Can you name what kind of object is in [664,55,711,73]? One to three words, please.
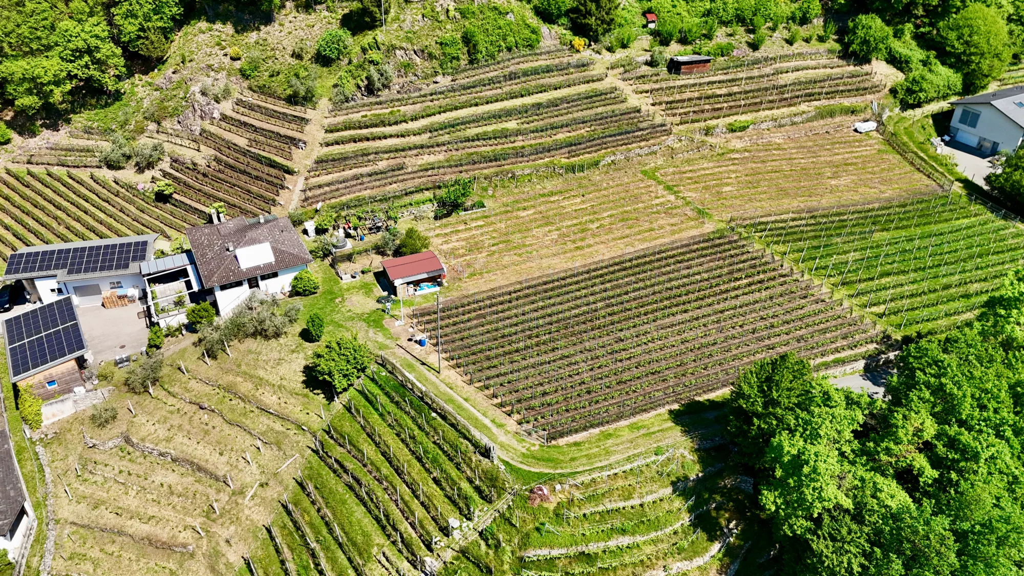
building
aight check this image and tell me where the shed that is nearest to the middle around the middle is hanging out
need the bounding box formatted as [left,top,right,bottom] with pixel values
[377,252,450,303]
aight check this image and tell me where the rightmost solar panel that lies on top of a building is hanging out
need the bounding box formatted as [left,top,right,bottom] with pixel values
[235,241,274,270]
